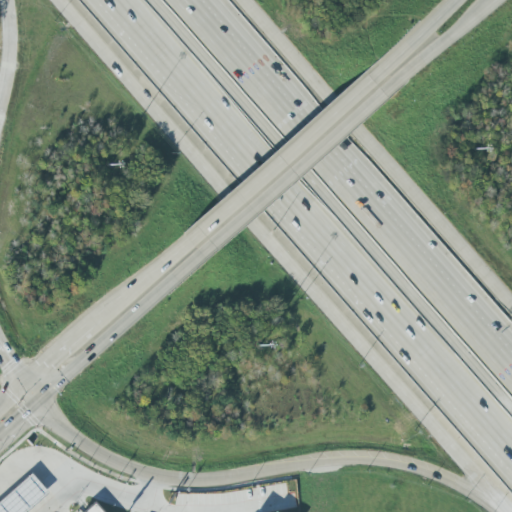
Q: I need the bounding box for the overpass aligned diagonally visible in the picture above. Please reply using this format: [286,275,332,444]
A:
[188,60,402,257]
